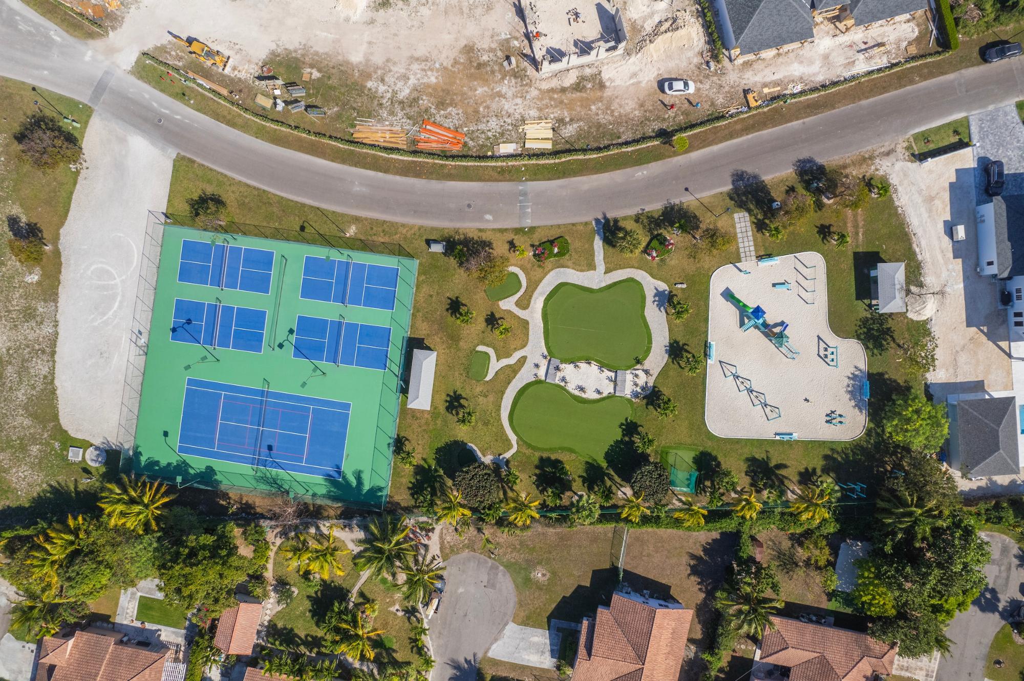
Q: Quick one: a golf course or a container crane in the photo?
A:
golf course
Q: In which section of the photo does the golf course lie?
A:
center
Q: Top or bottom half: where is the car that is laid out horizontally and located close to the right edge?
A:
top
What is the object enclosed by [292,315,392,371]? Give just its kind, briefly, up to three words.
sports court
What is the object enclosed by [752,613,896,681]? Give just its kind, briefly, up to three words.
house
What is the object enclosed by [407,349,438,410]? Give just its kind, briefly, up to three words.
building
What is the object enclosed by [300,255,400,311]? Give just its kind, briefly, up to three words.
sports court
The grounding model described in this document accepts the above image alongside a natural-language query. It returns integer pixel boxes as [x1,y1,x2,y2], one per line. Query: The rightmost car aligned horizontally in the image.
[985,39,1024,61]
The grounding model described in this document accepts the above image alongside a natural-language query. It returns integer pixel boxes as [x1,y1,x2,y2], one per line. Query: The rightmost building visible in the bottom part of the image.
[949,396,1020,478]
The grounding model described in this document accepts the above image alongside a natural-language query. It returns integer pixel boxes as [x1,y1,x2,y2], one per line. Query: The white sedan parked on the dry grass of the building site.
[664,77,695,93]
